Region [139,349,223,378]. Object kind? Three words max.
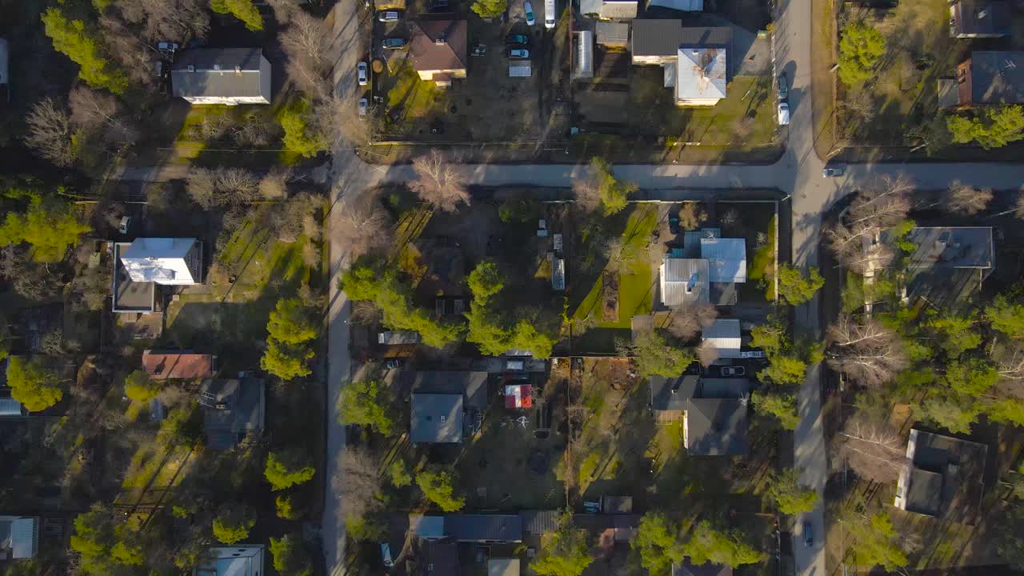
shed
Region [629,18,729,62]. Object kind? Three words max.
house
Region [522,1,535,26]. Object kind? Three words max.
vehicle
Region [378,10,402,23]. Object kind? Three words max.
vehicle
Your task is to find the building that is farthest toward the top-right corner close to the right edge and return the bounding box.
[951,0,1011,40]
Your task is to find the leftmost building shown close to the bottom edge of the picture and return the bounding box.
[0,513,44,558]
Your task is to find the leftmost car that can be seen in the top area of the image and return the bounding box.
[117,210,133,235]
